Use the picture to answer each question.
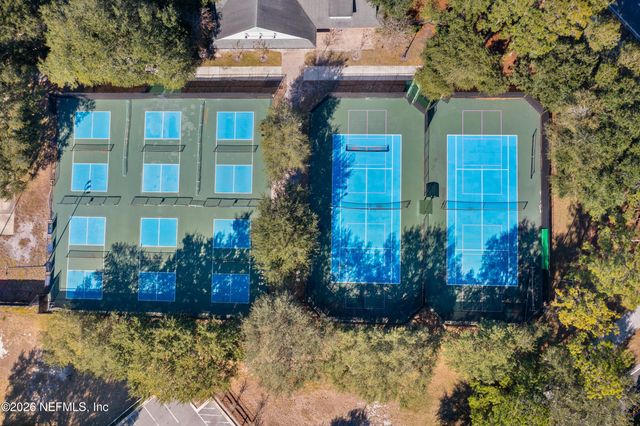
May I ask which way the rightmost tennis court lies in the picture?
up and down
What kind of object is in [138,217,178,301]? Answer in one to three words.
sports court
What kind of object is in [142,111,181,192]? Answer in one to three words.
sports court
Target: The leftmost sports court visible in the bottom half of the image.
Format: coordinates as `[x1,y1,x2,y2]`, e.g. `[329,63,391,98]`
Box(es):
[66,217,106,299]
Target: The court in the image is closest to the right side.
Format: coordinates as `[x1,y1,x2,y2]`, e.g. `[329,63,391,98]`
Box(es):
[447,110,518,310]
